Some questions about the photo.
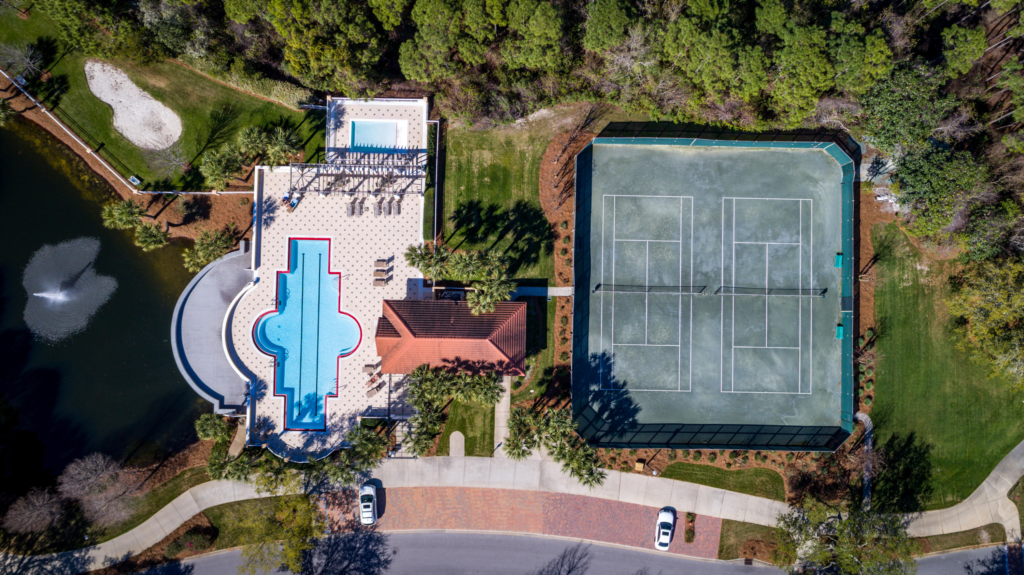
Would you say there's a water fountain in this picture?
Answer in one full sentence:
Yes, there is a water fountain in the image.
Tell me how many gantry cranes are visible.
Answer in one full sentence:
The picture shows no gantry cranes.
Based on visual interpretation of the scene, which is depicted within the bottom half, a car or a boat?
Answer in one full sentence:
It is a car that can be seen within the bottom half.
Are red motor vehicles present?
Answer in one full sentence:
No, no red motor vehicle can be seen from above.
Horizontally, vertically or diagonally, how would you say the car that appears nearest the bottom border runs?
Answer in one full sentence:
I'd say the car that appears nearest the bottom border is aligned vertically in the picture.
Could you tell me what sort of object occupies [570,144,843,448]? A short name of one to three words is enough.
tennis court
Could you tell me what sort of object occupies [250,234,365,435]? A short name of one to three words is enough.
swimming pool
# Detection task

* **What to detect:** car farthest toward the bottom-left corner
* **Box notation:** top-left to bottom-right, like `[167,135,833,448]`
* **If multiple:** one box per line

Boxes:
[358,484,378,527]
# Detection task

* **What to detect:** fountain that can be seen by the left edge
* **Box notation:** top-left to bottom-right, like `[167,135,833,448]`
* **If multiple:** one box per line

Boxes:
[20,235,126,351]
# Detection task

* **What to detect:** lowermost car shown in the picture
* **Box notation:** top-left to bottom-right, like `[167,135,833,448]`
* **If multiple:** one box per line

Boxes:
[654,508,675,552]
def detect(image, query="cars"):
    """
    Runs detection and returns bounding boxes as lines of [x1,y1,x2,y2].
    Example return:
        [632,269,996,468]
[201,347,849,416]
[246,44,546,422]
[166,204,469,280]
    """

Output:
[654,508,675,552]
[358,484,378,527]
